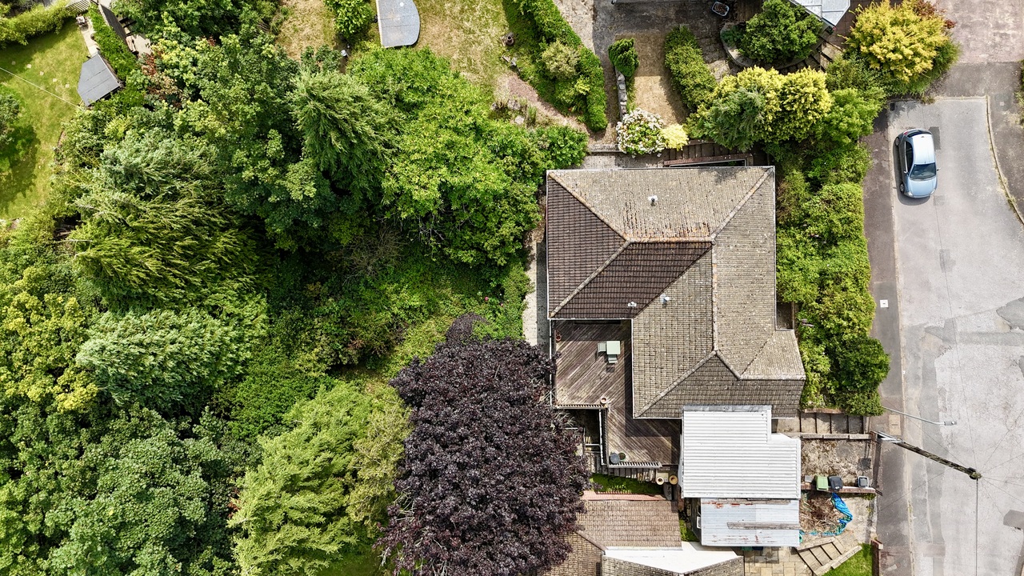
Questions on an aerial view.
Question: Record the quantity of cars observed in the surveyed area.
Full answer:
In total, 1 car can be seen.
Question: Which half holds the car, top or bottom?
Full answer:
It is in the top half that the car appears.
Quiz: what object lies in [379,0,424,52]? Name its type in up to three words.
shed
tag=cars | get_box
[896,130,942,198]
